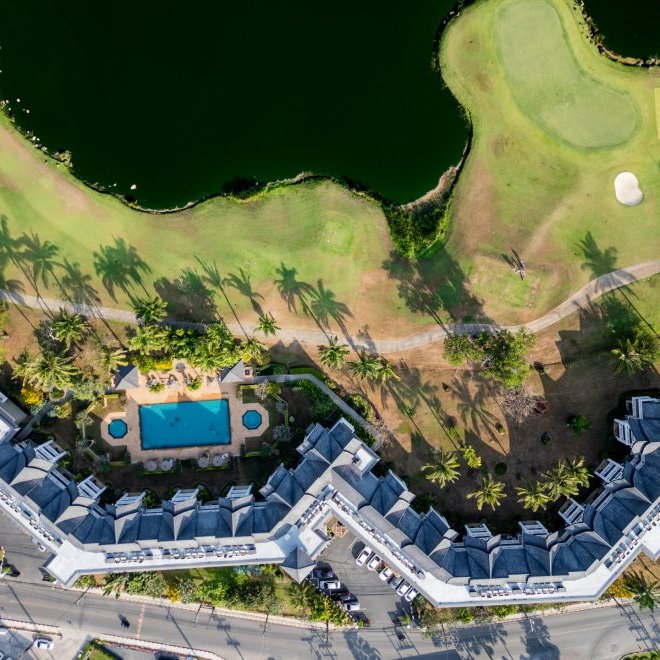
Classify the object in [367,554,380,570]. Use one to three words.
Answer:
vehicle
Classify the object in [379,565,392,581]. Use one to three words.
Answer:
vehicle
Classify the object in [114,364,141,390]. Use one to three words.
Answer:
building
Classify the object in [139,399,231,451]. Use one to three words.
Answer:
swimming pool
